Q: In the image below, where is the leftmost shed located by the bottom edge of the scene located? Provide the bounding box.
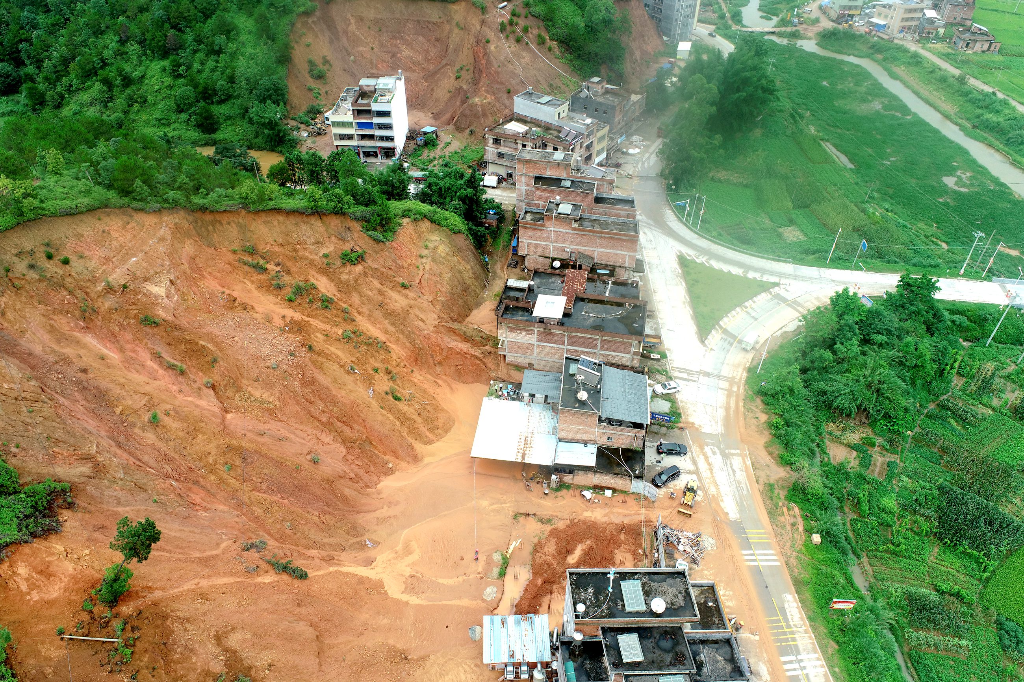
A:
[483,614,551,675]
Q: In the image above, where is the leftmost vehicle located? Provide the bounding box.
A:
[303,120,327,137]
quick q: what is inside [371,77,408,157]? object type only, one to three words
house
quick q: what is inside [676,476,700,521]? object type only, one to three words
work vehicle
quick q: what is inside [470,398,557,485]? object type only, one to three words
shed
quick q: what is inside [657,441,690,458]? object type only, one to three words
car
